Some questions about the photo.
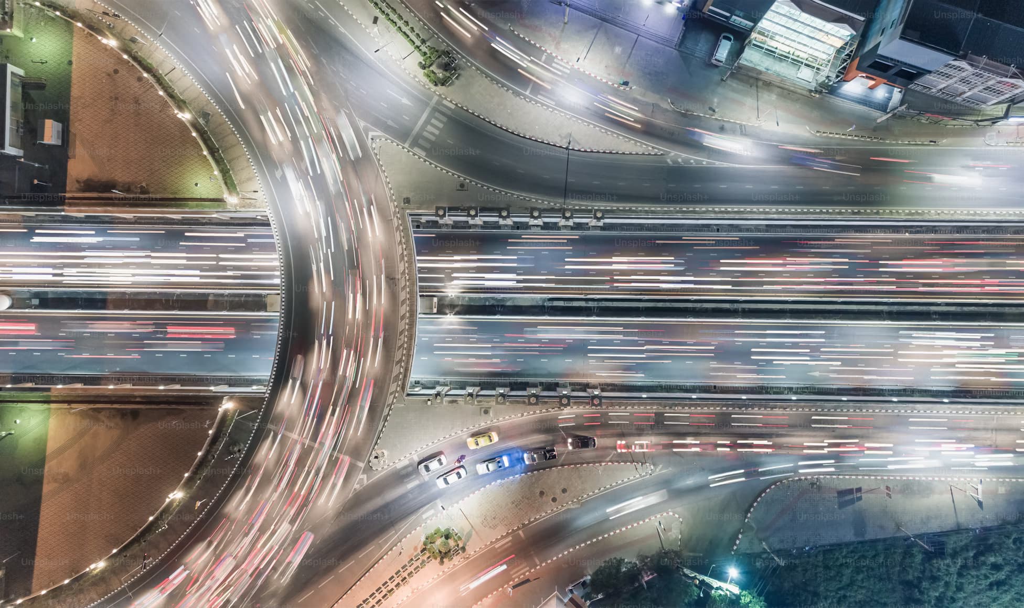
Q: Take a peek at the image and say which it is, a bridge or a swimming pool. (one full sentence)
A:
I can see a bridge in this picture.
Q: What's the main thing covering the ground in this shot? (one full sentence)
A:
Most of the picture is covered by paved ground.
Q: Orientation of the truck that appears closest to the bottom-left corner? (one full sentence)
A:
The truck that appears closest to the bottom-left corner is laid out on a diagonal.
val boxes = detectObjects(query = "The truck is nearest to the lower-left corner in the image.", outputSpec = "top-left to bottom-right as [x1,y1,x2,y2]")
[163,557,198,589]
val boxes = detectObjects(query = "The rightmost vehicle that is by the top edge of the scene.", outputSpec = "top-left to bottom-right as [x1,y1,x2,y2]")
[714,30,736,65]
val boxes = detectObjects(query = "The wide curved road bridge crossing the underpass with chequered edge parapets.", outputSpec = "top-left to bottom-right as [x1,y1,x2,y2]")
[397,212,438,397]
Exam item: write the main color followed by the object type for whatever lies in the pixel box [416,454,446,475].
white car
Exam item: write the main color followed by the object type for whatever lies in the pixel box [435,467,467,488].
white car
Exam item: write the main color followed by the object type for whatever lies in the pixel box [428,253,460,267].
white vehicle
